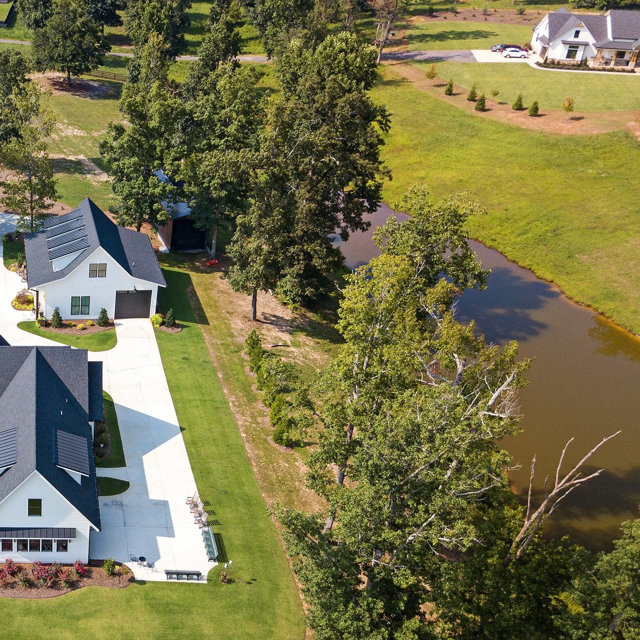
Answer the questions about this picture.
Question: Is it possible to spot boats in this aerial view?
No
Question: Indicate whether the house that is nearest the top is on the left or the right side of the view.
right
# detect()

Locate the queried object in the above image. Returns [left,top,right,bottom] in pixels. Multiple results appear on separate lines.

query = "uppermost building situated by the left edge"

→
[25,196,168,320]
